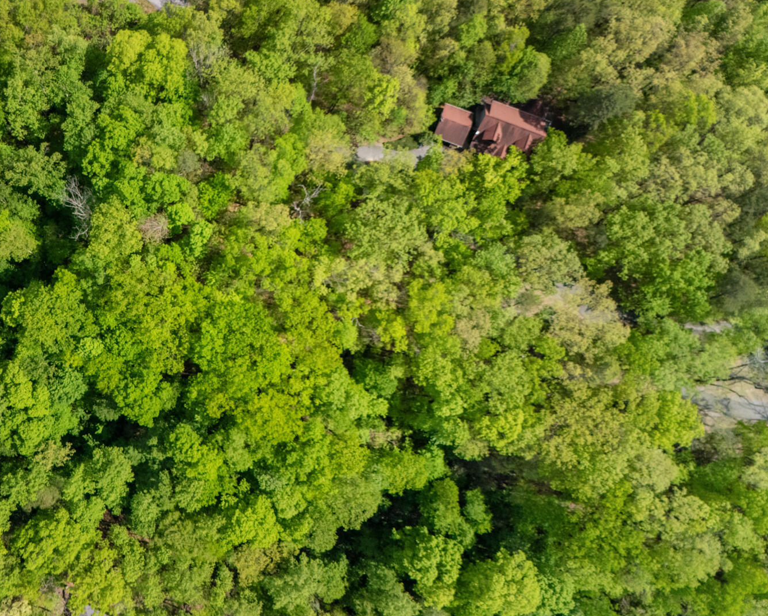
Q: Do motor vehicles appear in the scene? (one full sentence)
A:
No, no motor vehicle is visible in the view.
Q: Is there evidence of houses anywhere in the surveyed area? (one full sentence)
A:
Yes, this view includes a house.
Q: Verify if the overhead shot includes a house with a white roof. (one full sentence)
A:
No, no house with a white roof can be seen from above.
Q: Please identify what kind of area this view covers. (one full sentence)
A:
What you see here is a forest.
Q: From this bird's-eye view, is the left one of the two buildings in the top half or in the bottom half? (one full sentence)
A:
It is in the top half that the left one of the two buildings appears.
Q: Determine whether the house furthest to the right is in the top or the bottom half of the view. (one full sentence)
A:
The top half of the photo is where the house furthest to the right is.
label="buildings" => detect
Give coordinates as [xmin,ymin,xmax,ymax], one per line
[435,104,474,145]
[466,91,552,167]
